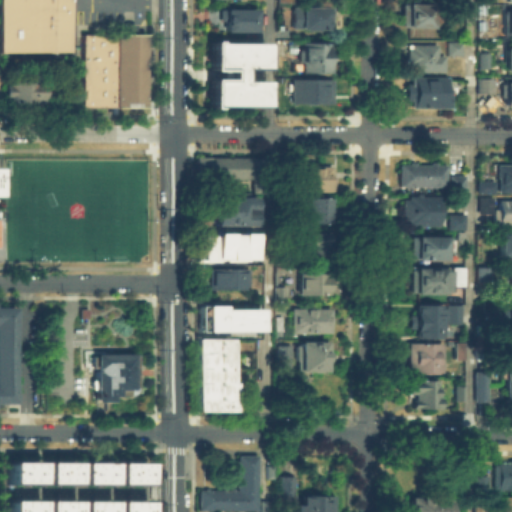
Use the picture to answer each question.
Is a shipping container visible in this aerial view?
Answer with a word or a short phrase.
No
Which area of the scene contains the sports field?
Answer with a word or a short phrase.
left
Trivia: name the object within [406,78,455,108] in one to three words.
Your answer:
house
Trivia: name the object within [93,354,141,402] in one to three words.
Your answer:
building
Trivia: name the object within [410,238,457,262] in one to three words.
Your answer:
house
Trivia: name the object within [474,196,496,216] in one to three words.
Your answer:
building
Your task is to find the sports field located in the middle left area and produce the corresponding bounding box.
[8,160,149,262]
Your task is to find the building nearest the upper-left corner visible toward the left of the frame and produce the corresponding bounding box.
[0,0,75,54]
